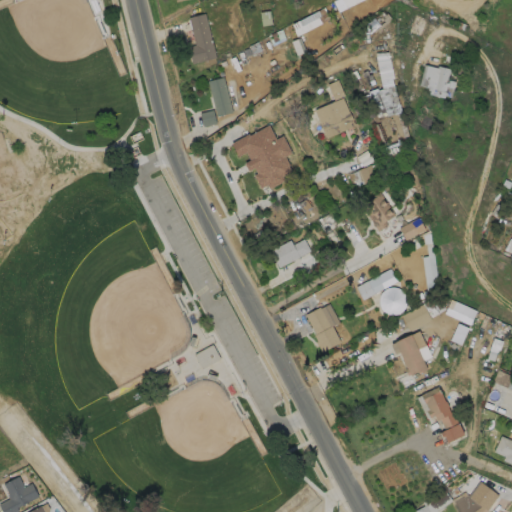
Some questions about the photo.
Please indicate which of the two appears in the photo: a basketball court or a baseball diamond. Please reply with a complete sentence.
Of the two, only a baseball diamond appears.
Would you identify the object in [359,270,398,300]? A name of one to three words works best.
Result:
barn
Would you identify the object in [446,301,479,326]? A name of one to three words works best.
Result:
building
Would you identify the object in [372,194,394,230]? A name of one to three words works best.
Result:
house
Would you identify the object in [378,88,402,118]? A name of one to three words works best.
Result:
shed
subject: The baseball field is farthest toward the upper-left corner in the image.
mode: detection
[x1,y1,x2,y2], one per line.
[0,0,129,124]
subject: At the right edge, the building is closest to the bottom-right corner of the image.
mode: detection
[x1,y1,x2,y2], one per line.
[454,482,500,512]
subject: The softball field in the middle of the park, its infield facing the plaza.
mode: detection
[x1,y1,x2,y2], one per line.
[56,221,193,410]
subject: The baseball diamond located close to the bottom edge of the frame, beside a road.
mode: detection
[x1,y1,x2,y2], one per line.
[94,379,281,512]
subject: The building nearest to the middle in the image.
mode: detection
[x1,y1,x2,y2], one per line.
[276,240,312,267]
